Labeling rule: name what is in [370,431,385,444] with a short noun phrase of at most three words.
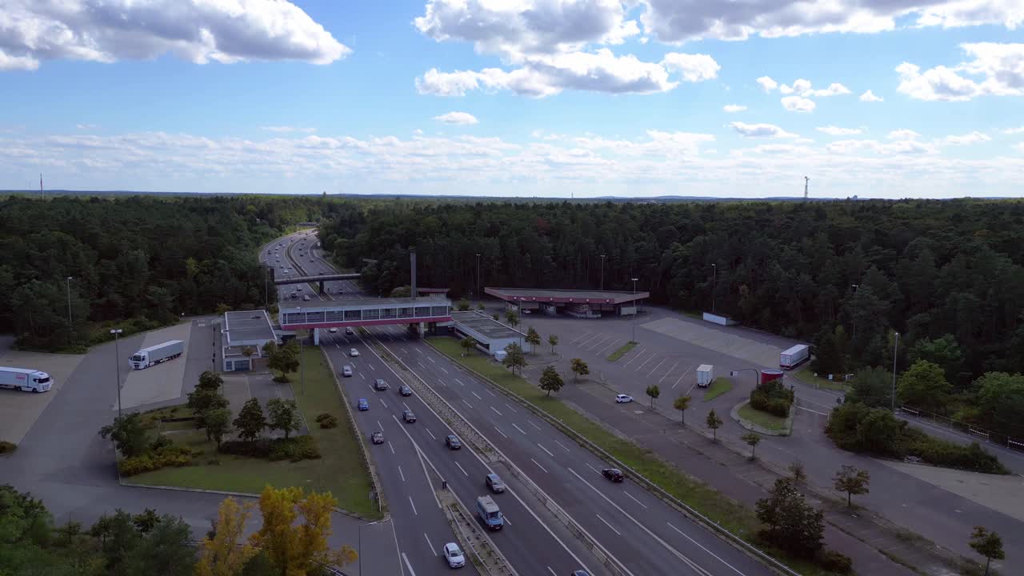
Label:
vehicle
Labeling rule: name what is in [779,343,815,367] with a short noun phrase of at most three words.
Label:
truck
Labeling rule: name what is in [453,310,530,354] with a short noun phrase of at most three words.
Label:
building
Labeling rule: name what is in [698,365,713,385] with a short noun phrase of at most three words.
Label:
vehicle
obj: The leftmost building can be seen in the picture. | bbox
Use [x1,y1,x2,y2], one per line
[219,311,278,373]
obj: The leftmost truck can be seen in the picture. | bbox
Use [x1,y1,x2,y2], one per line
[0,366,54,391]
